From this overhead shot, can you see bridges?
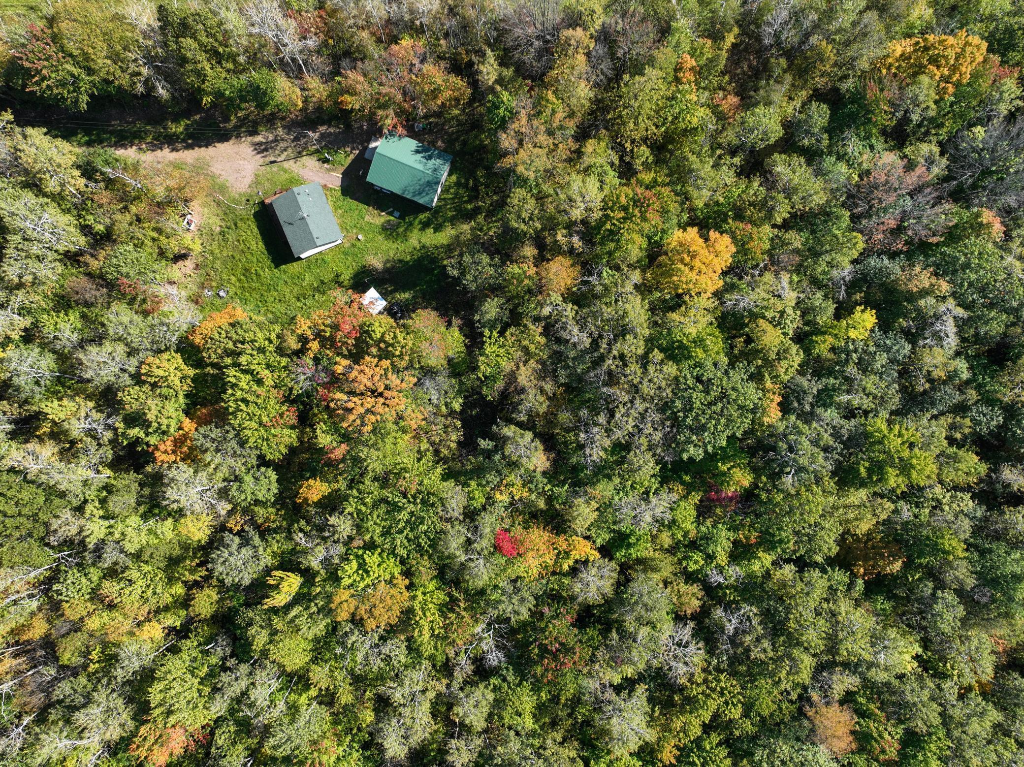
No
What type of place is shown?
forest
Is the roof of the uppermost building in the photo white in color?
No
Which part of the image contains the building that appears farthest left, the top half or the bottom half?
top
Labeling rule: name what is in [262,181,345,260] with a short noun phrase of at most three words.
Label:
building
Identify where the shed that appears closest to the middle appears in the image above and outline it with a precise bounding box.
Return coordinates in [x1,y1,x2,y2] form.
[361,287,388,315]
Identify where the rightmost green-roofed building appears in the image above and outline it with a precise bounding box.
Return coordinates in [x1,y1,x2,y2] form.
[366,131,452,210]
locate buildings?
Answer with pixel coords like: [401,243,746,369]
[361,287,388,315]
[262,181,345,260]
[366,131,452,210]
